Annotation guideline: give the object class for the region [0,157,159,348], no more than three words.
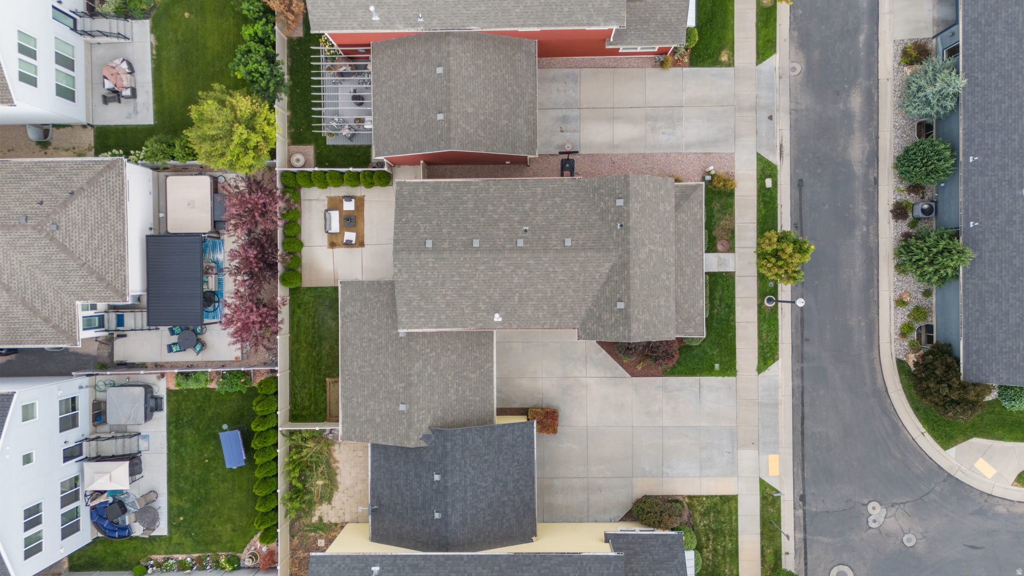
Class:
house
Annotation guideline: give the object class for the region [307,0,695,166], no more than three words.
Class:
house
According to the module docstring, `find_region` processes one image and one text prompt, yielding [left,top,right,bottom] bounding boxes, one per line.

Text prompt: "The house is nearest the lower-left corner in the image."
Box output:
[0,376,96,576]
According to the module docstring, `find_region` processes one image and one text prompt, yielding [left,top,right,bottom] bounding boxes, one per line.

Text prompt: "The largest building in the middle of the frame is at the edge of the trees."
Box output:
[337,173,706,448]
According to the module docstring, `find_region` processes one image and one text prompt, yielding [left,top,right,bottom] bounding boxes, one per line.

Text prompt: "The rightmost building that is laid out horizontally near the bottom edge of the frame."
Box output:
[307,416,694,576]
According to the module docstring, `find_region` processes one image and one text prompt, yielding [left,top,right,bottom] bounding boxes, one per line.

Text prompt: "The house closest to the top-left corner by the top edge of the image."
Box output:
[0,0,94,126]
